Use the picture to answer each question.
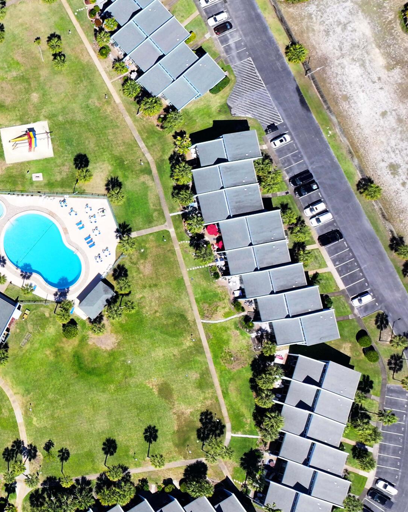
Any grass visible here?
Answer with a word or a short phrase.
Yes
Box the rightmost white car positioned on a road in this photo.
[375,480,397,497]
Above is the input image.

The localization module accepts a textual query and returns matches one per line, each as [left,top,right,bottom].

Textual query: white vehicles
[375,480,397,497]
[207,11,228,26]
[200,0,216,8]
[303,202,325,217]
[311,211,332,227]
[350,292,372,307]
[271,134,291,149]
